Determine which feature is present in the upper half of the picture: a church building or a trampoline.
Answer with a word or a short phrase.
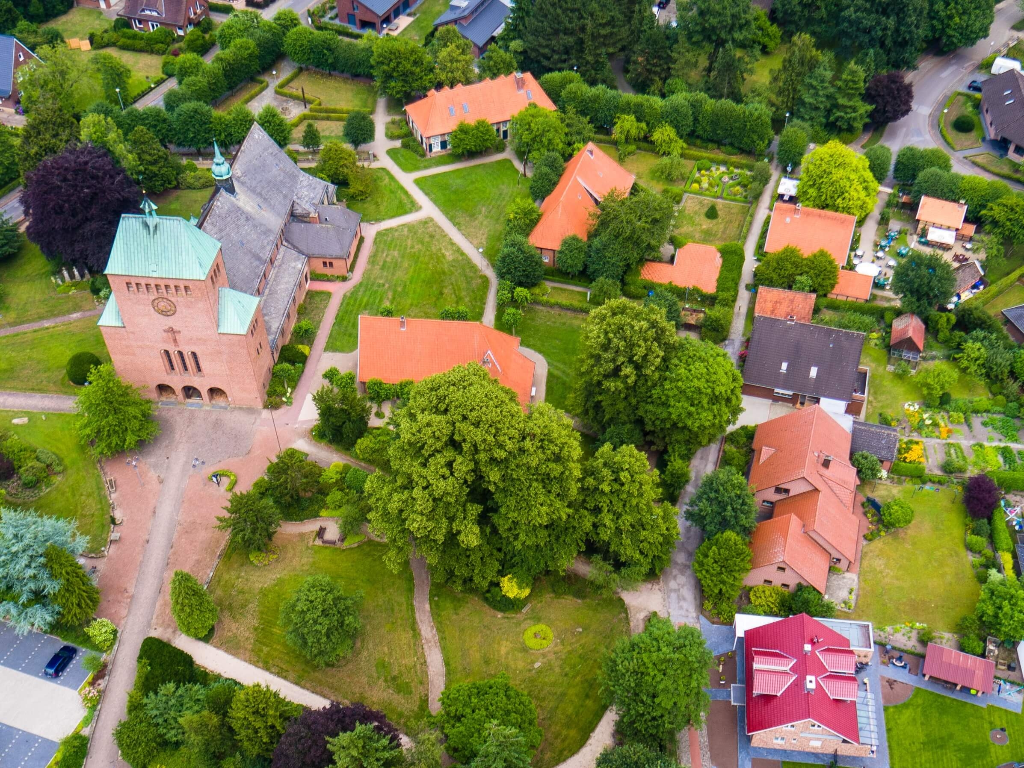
church building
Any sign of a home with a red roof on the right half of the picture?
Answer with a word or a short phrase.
Yes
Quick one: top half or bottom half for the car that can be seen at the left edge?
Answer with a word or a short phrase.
bottom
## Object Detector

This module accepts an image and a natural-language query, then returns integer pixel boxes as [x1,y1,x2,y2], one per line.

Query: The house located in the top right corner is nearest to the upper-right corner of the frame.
[980,68,1024,152]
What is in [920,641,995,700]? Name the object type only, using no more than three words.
building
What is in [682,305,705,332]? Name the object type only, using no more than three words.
shed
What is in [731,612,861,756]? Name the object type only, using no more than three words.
house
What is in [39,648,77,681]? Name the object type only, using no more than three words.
car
